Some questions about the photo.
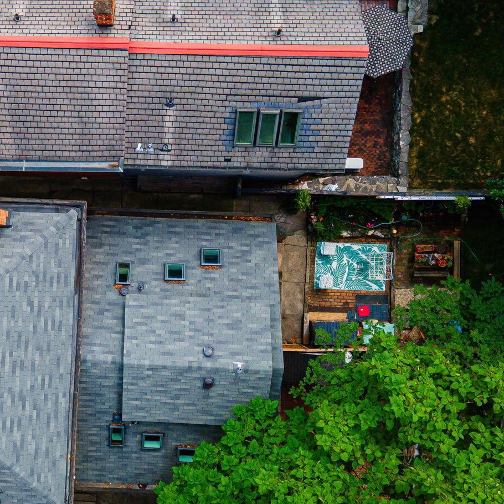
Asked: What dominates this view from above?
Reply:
buildings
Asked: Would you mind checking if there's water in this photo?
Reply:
No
